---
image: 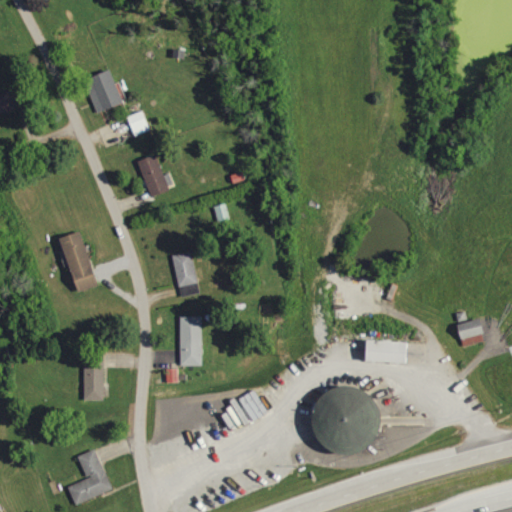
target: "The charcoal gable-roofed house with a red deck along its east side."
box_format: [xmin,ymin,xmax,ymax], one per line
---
[87,70,123,112]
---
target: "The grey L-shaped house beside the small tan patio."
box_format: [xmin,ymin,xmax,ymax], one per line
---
[68,446,112,504]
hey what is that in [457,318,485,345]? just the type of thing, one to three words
barn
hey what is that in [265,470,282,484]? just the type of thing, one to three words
vehicle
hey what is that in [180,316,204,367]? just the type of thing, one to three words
house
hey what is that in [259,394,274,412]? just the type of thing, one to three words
vehicle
